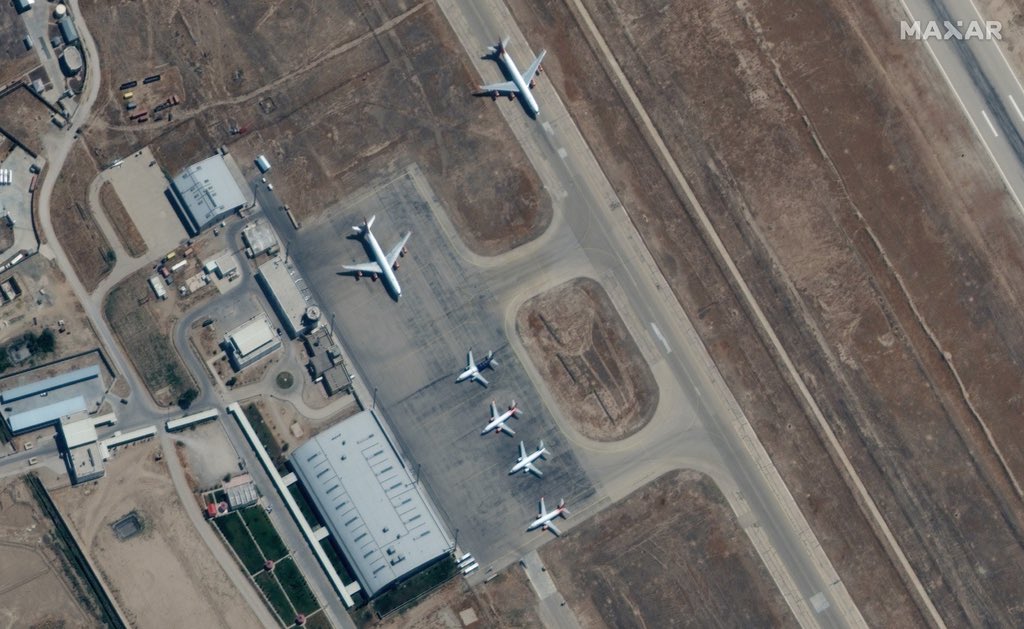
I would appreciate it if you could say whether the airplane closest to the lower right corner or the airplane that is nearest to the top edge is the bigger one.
the airplane that is nearest to the top edge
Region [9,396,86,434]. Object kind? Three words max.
shed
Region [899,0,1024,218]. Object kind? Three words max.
runway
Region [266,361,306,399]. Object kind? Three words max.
roundabout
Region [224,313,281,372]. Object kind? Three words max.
building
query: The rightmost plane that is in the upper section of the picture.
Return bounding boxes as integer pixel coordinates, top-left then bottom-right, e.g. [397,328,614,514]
[479,35,546,116]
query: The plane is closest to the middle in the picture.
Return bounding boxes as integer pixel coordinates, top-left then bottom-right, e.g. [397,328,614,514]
[457,349,497,384]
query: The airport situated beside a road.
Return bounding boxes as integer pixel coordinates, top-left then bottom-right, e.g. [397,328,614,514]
[286,0,1024,629]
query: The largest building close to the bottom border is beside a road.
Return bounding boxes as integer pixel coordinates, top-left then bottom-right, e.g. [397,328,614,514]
[291,410,453,602]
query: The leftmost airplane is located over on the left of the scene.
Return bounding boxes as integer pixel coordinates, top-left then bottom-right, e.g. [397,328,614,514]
[343,216,411,298]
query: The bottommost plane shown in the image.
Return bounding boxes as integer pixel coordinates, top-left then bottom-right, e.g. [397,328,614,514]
[530,500,570,532]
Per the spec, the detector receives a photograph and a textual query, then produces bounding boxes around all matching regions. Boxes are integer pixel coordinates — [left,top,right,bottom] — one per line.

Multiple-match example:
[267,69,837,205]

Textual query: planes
[343,216,411,298]
[510,442,550,474]
[483,400,522,432]
[479,35,546,116]
[457,349,497,384]
[530,500,570,532]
